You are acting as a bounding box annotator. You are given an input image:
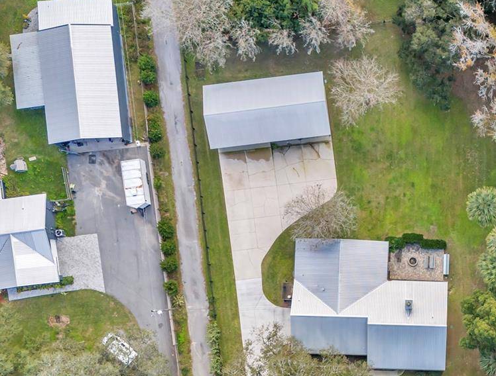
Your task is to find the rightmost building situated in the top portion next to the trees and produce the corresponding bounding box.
[203,71,332,151]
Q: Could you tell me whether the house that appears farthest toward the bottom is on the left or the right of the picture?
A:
right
